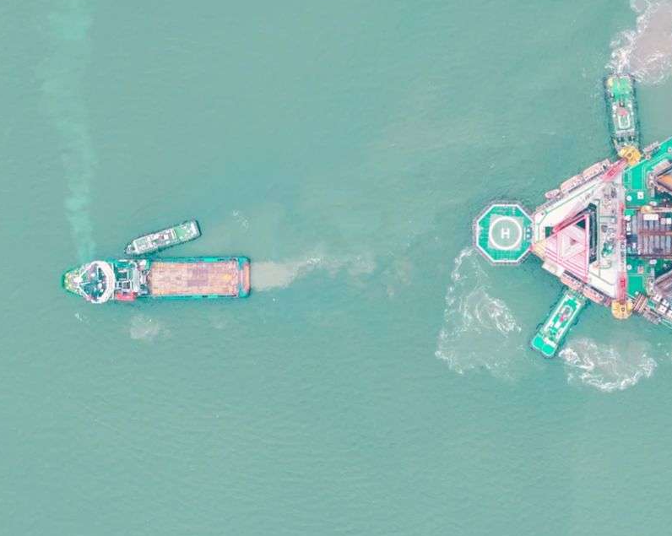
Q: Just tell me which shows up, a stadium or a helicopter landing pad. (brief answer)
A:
helicopter landing pad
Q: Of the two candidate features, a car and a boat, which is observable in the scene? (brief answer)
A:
boat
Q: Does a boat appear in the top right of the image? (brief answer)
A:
Yes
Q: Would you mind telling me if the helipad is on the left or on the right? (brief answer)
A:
right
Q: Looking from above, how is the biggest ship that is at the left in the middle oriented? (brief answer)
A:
horizontally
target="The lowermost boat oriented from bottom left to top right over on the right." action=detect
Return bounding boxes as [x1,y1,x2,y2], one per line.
[531,285,590,358]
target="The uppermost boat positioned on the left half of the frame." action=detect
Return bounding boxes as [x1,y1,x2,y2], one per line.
[123,217,206,257]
